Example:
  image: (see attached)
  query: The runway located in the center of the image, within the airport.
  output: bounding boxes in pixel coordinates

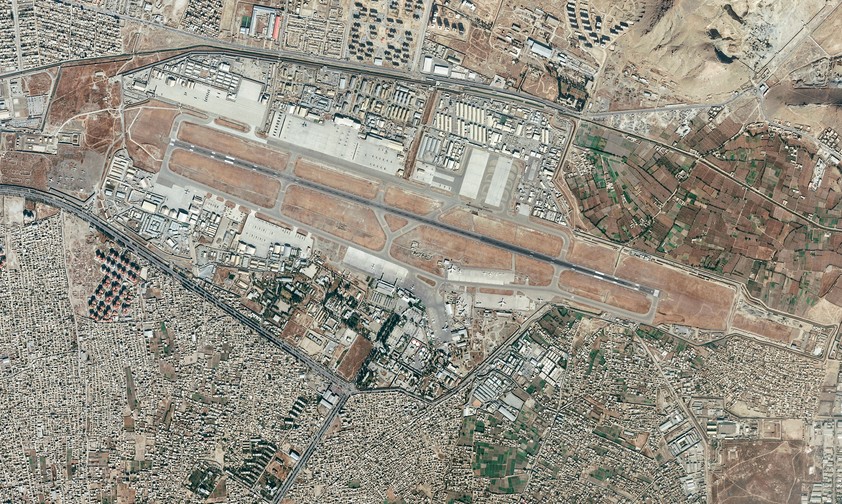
[170,138,659,297]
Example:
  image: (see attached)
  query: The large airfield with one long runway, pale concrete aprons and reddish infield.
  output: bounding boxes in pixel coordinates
[125,72,830,356]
